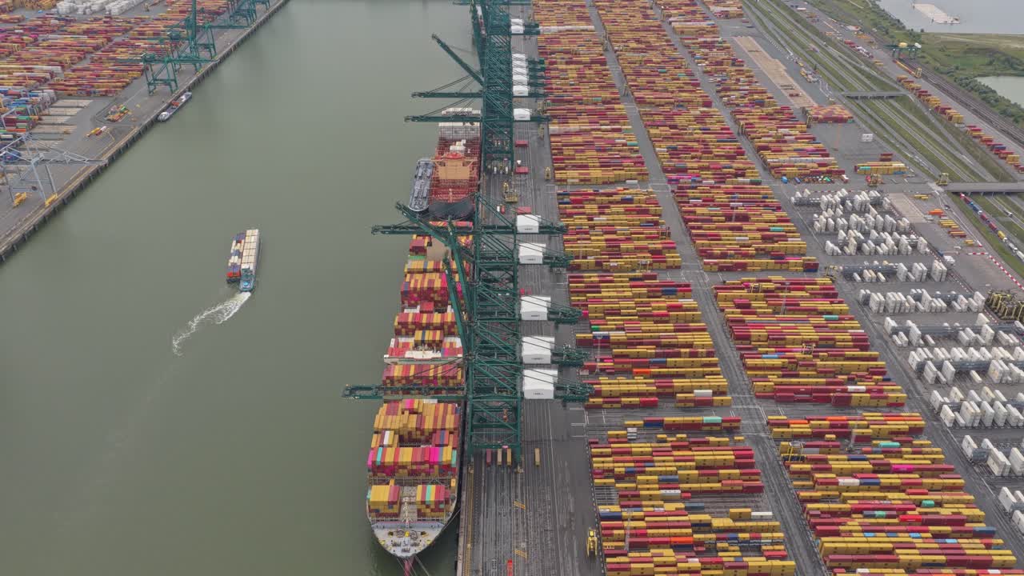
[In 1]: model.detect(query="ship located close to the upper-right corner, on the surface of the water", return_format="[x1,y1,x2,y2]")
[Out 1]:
[912,0,962,24]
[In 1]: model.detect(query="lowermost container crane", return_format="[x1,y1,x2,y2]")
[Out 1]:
[334,341,601,473]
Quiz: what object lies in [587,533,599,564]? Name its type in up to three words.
vehicle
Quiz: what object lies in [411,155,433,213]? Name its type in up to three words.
ship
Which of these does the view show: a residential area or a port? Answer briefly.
port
